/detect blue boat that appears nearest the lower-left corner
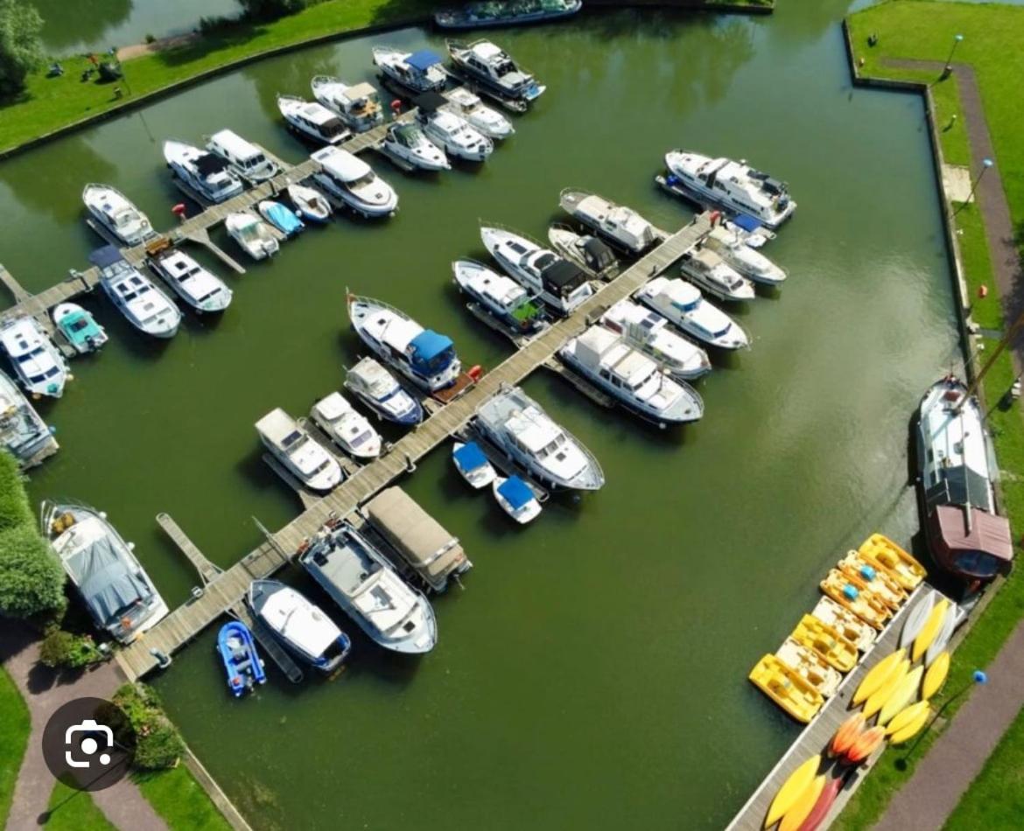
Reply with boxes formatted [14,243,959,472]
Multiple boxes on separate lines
[204,600,269,696]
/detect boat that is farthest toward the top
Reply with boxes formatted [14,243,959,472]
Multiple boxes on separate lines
[437,0,584,28]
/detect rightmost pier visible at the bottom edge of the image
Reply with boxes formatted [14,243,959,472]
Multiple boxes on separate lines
[722,582,967,831]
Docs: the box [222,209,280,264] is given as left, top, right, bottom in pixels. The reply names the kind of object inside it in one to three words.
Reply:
boat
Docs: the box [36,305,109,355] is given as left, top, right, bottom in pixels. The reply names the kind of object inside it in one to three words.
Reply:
boat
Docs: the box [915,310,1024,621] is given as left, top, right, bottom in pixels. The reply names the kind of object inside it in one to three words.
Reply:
ship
